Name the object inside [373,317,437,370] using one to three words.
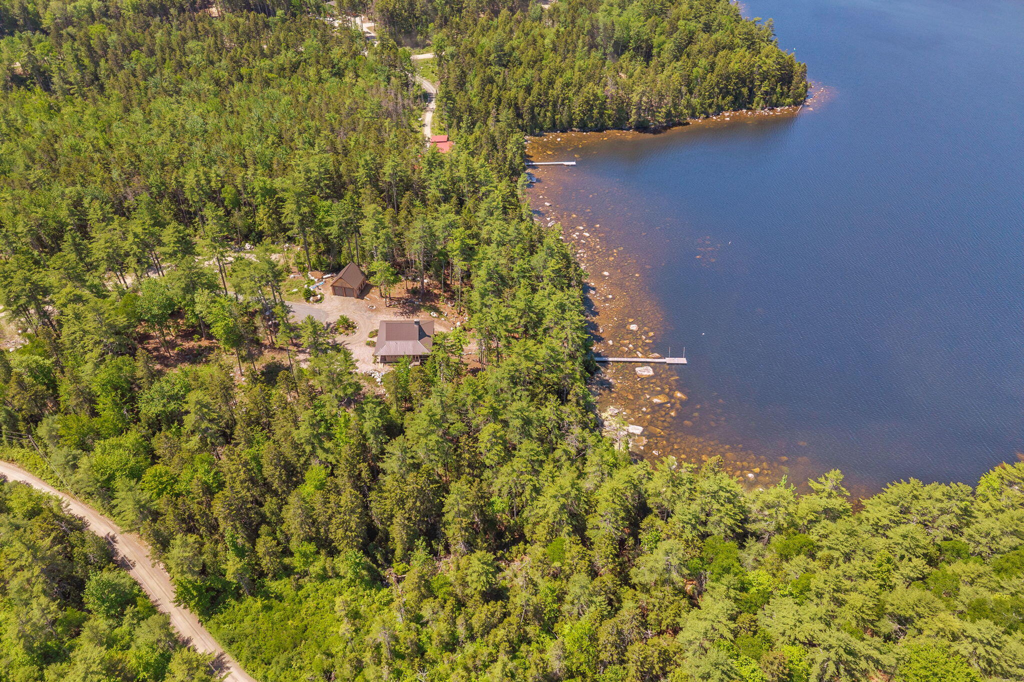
house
